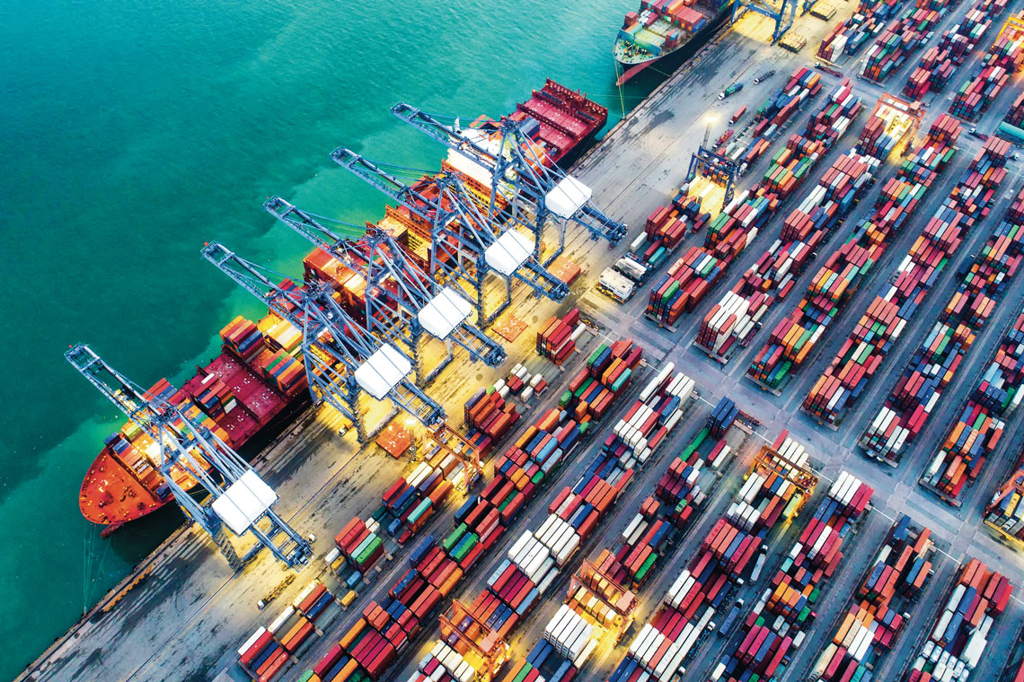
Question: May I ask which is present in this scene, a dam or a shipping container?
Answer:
shipping container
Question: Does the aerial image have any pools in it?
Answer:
No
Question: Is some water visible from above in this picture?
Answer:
Yes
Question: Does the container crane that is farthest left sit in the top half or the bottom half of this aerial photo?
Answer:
bottom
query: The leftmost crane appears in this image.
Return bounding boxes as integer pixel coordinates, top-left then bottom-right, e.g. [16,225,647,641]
[56,341,317,569]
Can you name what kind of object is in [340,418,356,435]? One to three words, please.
vehicle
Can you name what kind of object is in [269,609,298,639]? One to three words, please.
shipping container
